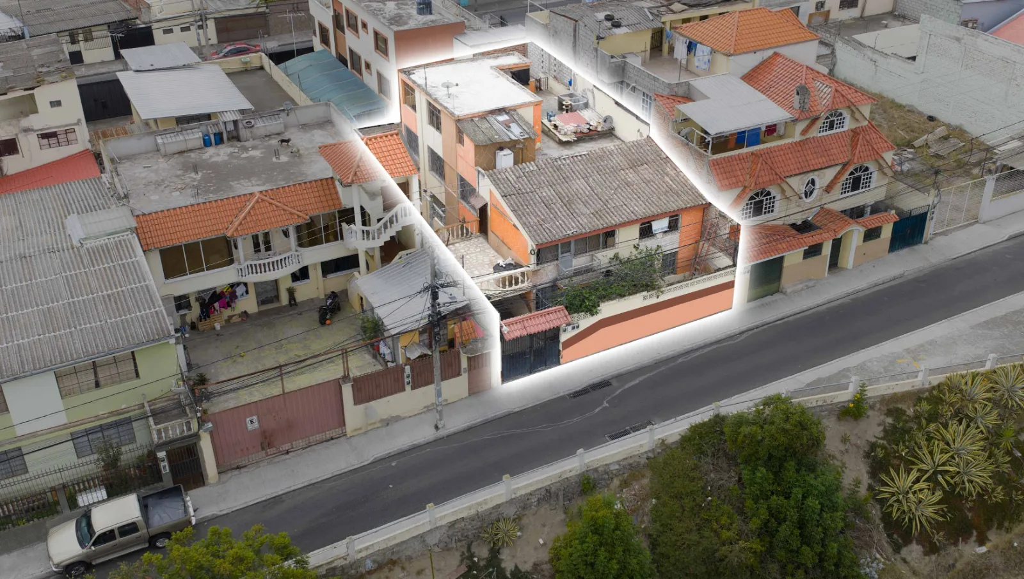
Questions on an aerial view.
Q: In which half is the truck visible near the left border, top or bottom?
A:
bottom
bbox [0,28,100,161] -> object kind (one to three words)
house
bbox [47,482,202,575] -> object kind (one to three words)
truck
